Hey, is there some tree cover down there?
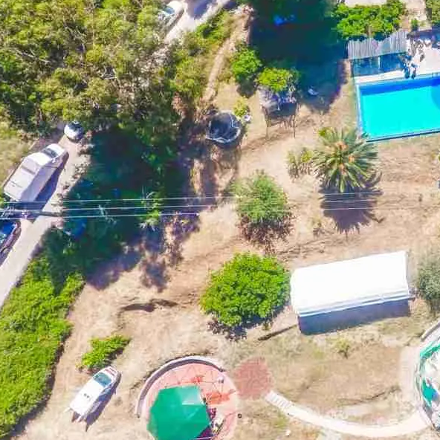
Yes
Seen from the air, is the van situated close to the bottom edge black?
No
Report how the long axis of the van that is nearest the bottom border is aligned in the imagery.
diagonally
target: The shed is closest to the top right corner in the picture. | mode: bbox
[347,34,412,81]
